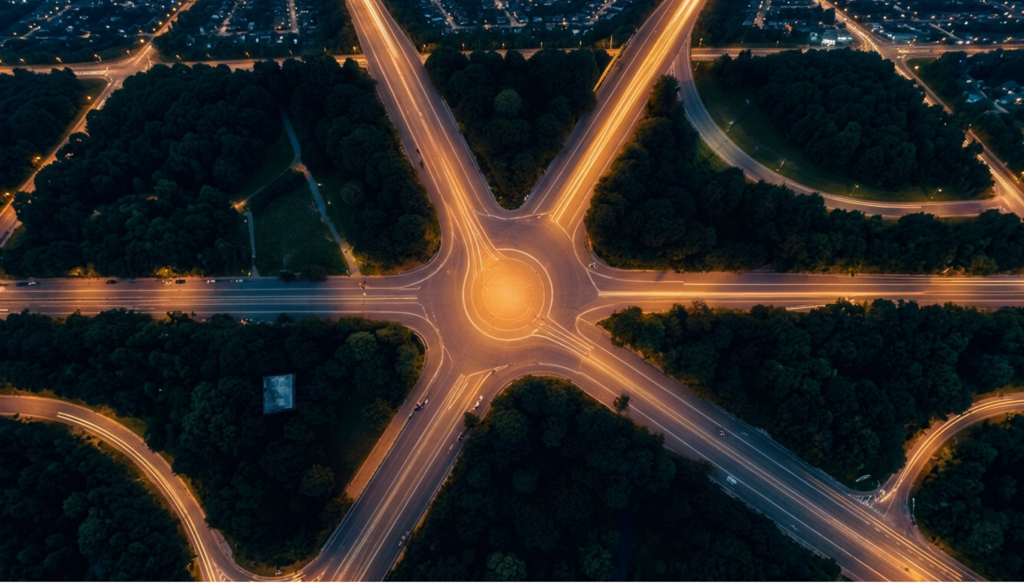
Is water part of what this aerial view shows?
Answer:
No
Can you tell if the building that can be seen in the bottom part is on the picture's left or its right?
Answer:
left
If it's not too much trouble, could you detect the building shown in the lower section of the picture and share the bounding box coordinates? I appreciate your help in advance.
[260,374,296,416]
